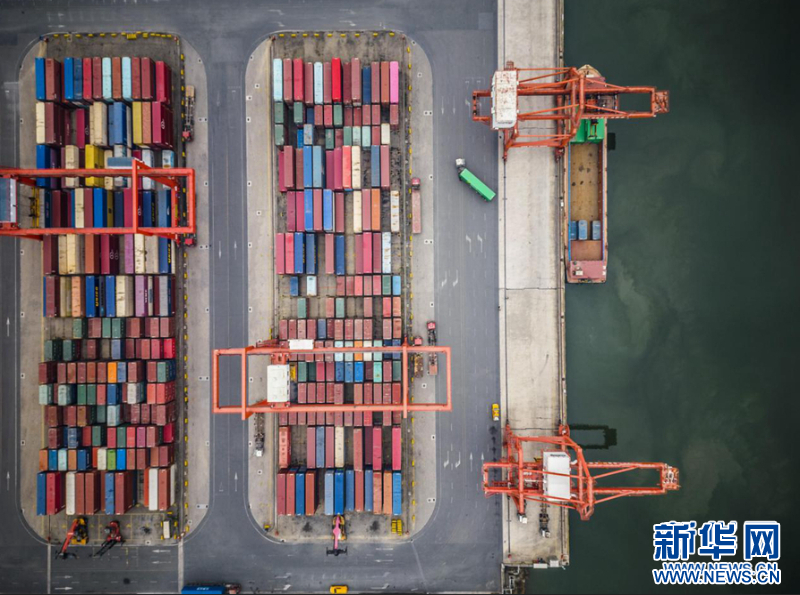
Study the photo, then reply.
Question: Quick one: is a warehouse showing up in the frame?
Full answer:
No, I can see no warehouse in this picture.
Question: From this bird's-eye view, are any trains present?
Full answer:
No, the scene contains no train.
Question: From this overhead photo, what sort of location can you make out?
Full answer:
It's a port.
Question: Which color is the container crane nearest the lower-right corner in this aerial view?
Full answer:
The color of the container crane nearest the lower-right corner is red.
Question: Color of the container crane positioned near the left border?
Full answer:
From above, the container crane positioned near the left border appears red.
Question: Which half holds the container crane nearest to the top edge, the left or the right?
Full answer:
The container crane nearest to the top edge sits on the right side.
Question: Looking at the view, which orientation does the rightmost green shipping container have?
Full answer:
The rightmost green shipping container is laid out on a diagonal.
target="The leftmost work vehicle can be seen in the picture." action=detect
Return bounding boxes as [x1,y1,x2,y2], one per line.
[55,515,88,557]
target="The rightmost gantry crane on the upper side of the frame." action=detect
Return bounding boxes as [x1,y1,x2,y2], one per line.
[471,53,665,166]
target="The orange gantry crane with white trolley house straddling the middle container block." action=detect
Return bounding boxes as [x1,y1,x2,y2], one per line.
[212,329,452,422]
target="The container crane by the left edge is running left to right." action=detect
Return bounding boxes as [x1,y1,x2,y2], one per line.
[0,157,196,254]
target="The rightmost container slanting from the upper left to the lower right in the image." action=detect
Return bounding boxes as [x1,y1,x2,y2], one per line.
[459,169,495,201]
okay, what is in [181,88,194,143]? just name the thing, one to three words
vehicle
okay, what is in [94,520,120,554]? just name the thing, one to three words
work vehicle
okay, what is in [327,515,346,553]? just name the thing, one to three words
work vehicle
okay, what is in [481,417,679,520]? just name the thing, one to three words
container crane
